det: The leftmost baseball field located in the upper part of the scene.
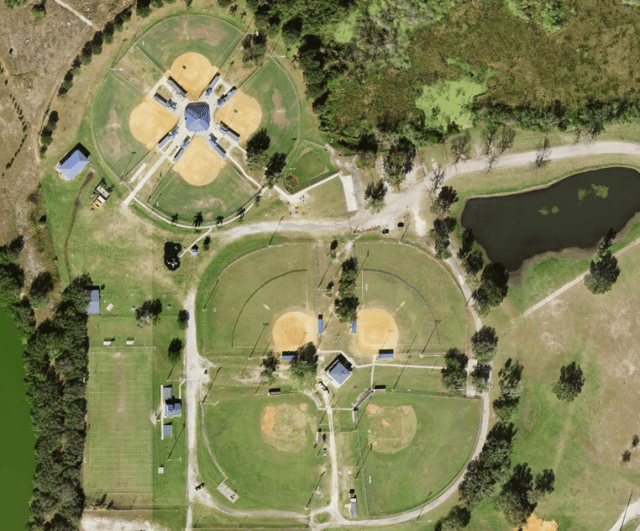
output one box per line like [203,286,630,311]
[92,71,179,182]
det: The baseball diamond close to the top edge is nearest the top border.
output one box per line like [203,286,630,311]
[136,16,244,103]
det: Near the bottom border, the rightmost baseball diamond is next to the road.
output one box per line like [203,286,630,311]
[356,394,480,515]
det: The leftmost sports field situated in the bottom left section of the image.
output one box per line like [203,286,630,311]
[85,346,157,493]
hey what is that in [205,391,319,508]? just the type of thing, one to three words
baseball field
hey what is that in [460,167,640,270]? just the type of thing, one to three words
pond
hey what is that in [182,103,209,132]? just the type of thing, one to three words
building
